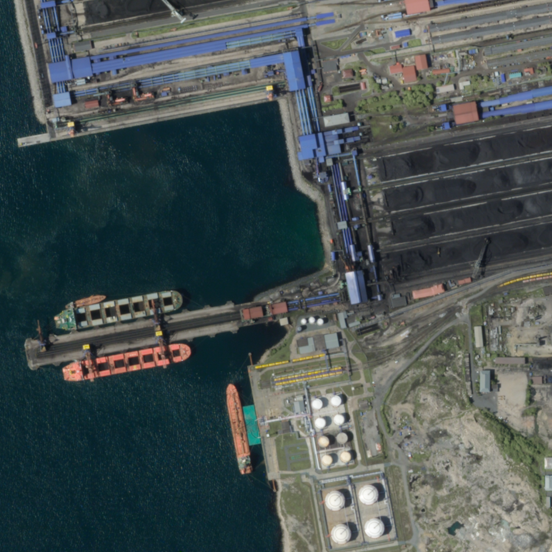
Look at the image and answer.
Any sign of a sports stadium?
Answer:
No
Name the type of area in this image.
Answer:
port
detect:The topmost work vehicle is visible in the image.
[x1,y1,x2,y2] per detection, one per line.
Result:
[162,0,186,23]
